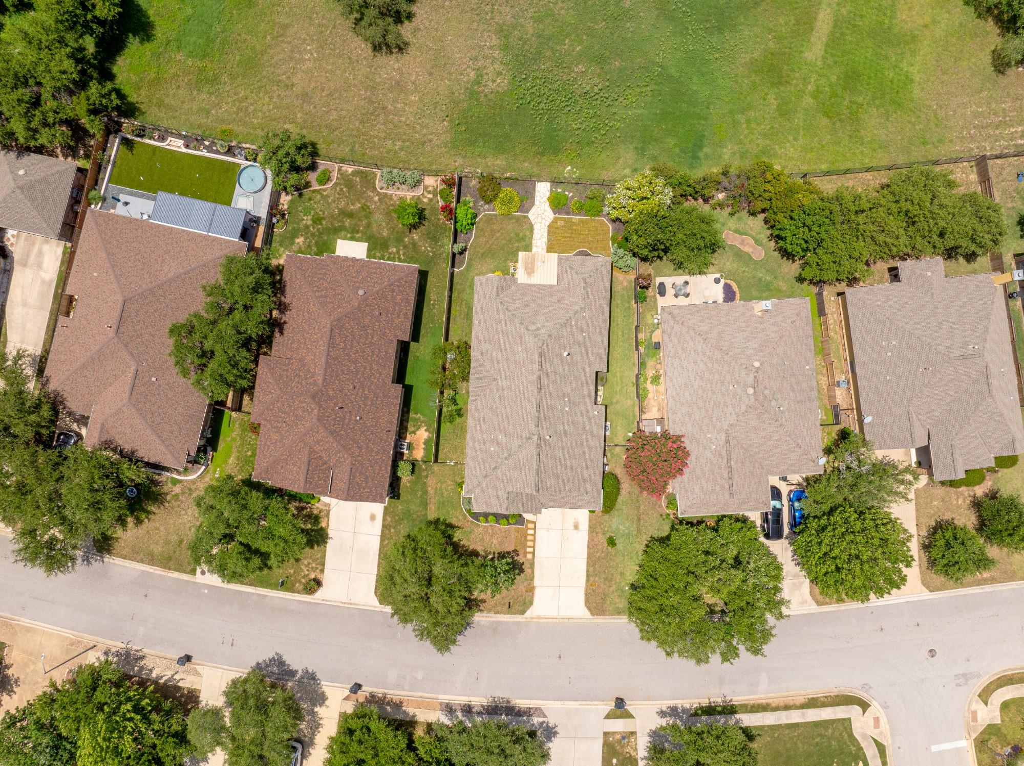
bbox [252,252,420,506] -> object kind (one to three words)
house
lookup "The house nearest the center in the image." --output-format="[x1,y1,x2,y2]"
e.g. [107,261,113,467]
[462,254,612,515]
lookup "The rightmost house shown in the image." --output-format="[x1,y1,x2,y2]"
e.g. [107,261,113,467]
[836,256,1024,481]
